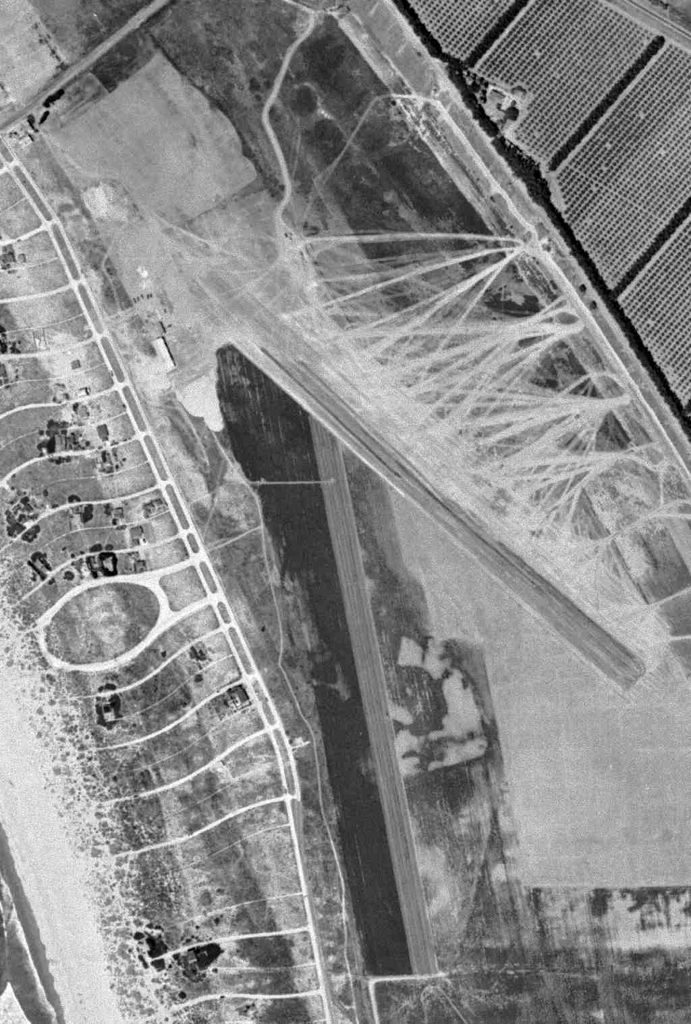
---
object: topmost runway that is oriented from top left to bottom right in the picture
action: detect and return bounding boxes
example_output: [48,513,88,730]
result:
[238,343,645,688]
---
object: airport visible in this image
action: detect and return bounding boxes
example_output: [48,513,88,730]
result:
[60,165,667,974]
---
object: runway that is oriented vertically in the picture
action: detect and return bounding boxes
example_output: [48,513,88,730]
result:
[304,405,439,974]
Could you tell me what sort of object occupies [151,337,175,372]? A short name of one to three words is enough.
hangar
